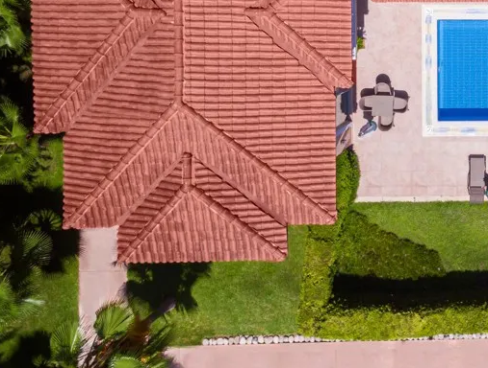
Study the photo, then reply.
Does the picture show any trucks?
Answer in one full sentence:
No, no truck is visible in the scene.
